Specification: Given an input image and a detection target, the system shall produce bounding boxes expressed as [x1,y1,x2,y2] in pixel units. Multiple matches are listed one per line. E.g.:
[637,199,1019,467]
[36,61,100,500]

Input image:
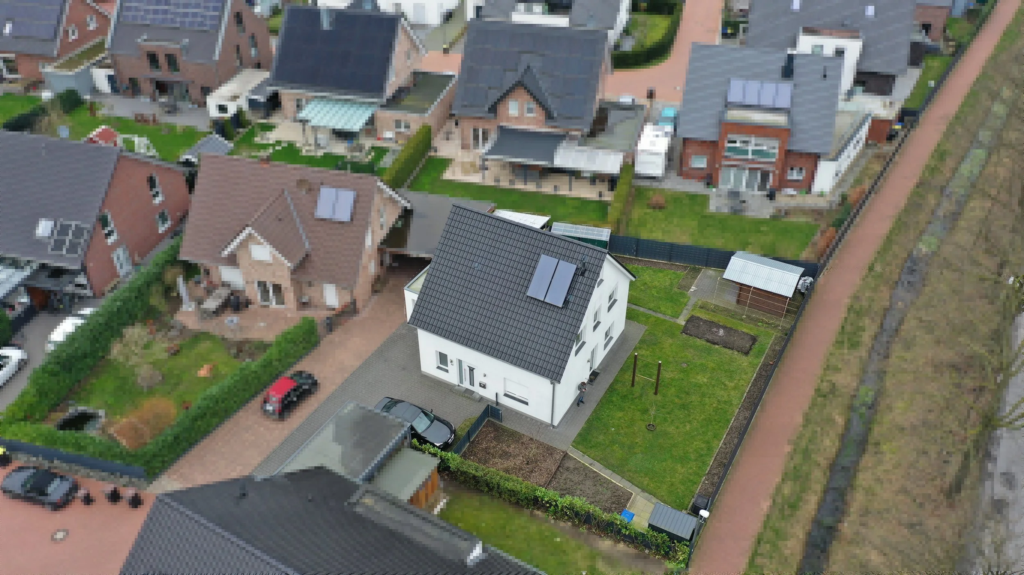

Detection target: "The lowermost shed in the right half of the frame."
[643,497,697,548]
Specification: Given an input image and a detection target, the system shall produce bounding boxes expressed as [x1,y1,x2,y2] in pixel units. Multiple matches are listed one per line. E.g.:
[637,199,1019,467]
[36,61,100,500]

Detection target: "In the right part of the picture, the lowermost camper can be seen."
[636,128,672,176]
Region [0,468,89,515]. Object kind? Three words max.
car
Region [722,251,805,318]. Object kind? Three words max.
shed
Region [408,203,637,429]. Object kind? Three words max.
house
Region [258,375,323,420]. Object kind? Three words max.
car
